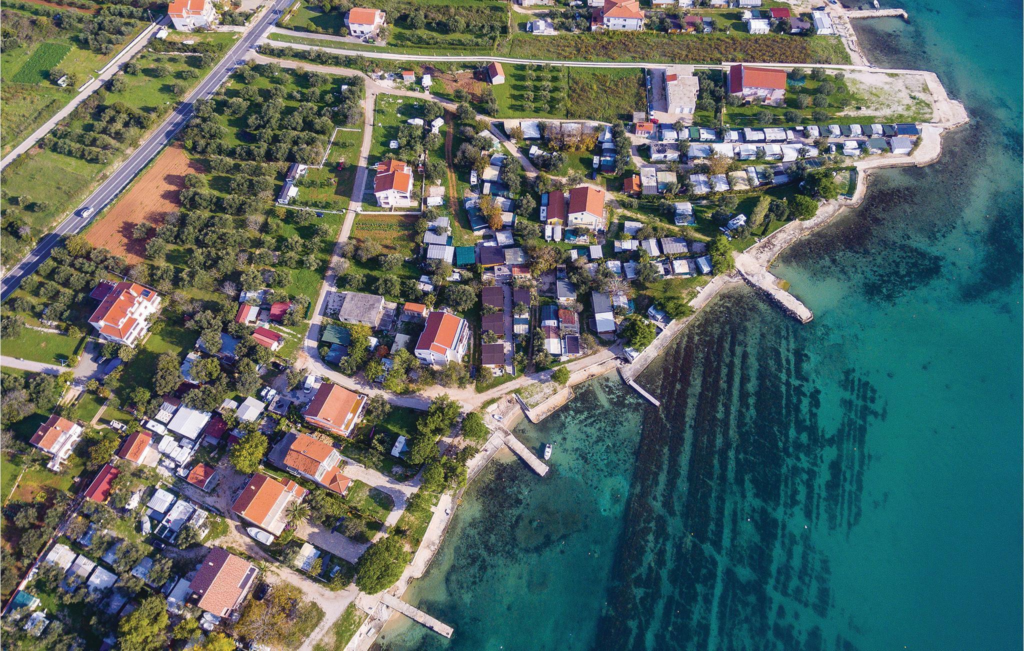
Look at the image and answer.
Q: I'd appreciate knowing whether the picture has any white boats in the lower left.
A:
Yes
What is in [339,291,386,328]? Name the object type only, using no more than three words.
building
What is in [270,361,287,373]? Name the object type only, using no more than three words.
vehicle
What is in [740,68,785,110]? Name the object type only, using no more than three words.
house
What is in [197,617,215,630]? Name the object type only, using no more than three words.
boat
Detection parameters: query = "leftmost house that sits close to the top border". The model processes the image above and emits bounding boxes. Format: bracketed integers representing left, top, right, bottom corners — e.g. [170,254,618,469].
[169,0,223,29]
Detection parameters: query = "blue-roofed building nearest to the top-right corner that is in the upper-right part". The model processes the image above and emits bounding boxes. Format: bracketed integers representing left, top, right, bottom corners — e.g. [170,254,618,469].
[889,123,919,142]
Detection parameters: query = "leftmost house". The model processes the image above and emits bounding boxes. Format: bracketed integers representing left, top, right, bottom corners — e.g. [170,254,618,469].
[29,415,93,470]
